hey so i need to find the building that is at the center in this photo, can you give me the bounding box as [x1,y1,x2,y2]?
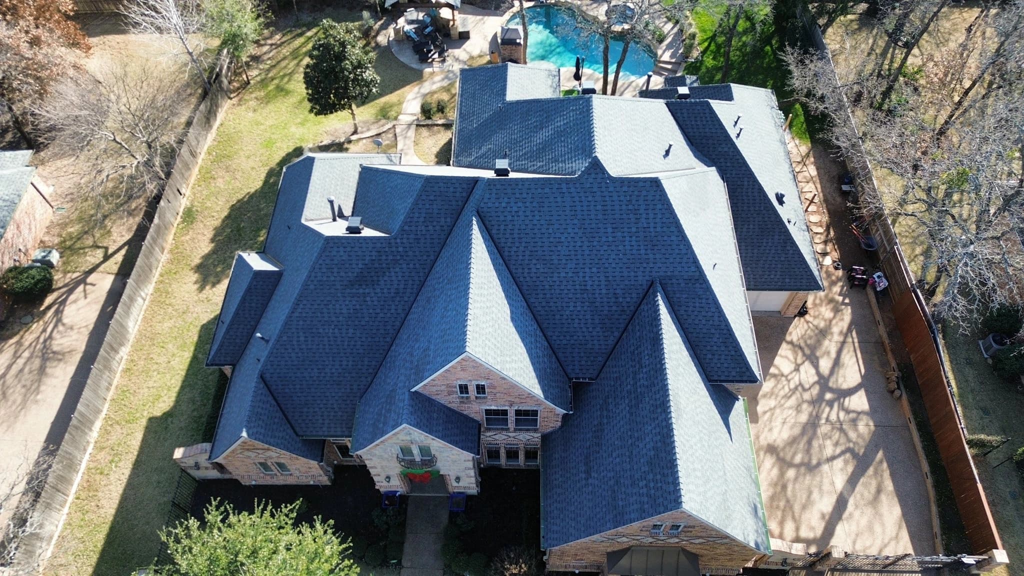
[202,63,827,576]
